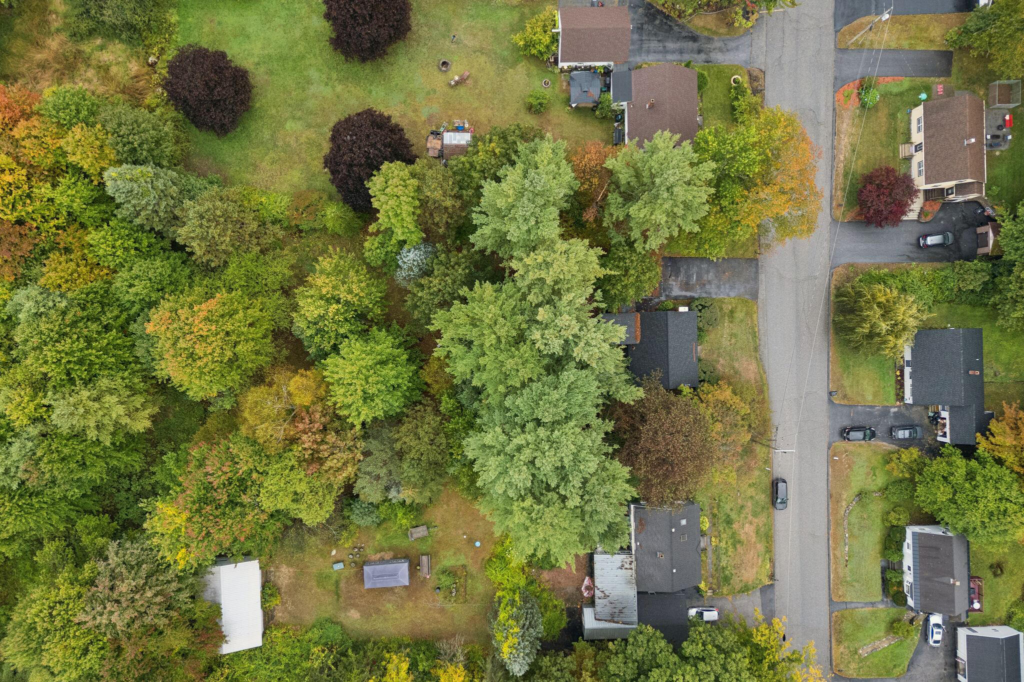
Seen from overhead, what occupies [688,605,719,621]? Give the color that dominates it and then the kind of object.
white car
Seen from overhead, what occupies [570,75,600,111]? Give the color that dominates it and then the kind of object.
gray gazebo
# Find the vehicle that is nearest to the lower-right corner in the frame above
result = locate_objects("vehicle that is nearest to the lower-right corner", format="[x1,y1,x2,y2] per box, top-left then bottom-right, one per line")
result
[926,612,943,647]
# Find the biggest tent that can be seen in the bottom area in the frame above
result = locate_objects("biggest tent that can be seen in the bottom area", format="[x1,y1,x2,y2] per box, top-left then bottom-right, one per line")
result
[364,558,411,588]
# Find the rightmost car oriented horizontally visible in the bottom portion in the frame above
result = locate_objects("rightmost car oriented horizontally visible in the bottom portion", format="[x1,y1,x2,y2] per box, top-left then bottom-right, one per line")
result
[888,425,921,440]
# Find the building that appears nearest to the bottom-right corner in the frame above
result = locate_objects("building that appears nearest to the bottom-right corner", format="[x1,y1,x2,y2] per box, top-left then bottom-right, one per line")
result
[954,627,1021,682]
